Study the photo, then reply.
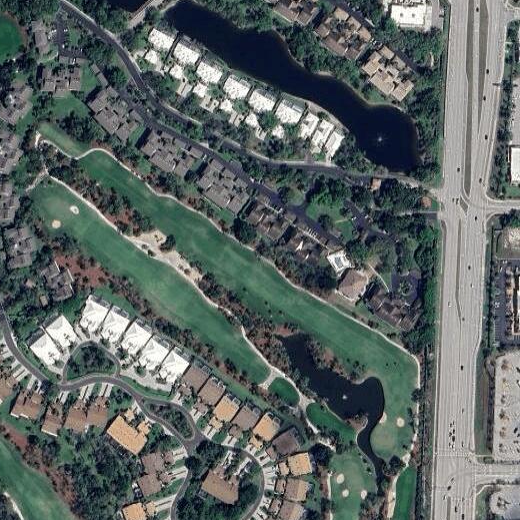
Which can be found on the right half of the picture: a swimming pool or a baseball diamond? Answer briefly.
swimming pool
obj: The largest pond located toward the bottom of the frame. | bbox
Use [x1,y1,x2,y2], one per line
[278,333,385,495]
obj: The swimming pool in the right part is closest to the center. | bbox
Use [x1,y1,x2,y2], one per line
[327,250,353,277]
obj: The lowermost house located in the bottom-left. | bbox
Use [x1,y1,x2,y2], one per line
[120,502,157,520]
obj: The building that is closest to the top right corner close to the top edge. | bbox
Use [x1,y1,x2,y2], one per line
[391,5,431,28]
